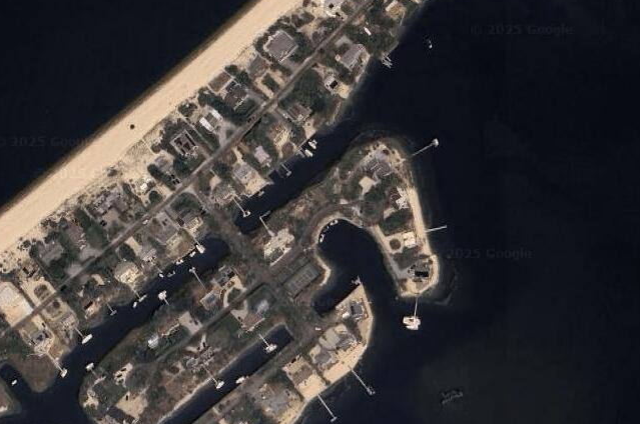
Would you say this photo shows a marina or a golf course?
marina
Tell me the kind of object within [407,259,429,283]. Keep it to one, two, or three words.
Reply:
house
